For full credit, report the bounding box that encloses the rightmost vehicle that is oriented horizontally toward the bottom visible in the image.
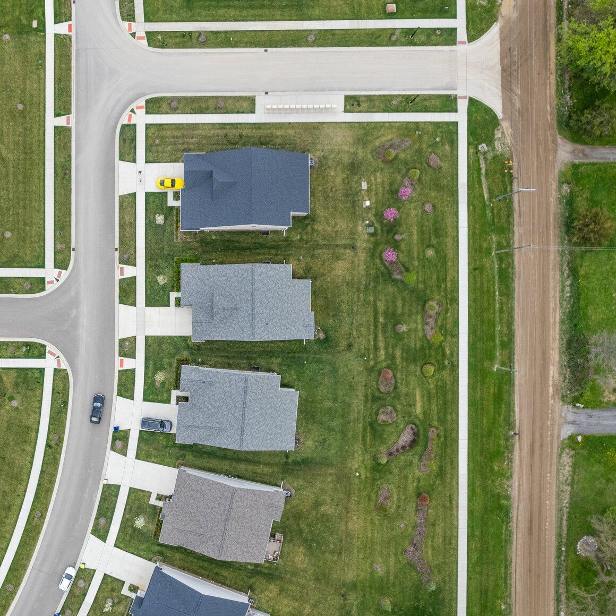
[140,418,172,432]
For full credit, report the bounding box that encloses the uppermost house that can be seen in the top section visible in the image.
[179,148,310,236]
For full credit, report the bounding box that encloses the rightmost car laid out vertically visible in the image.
[90,394,104,424]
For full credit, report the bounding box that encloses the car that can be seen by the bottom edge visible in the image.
[58,565,78,593]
